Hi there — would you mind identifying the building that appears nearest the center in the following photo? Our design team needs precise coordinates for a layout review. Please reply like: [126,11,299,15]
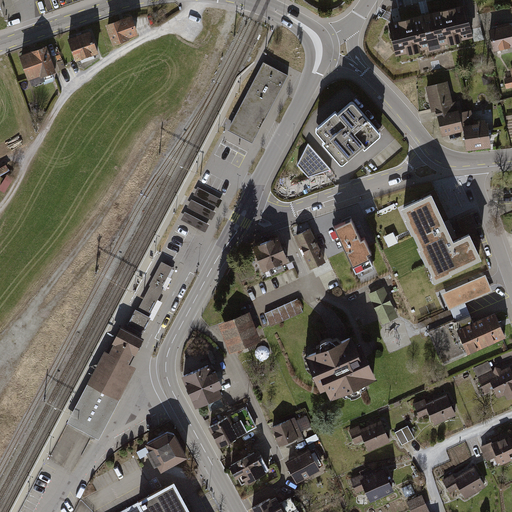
[255,239,294,277]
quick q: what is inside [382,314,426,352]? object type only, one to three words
playground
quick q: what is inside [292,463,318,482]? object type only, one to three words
solar panel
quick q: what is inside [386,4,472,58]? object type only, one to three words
house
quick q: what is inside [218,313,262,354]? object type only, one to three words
barn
